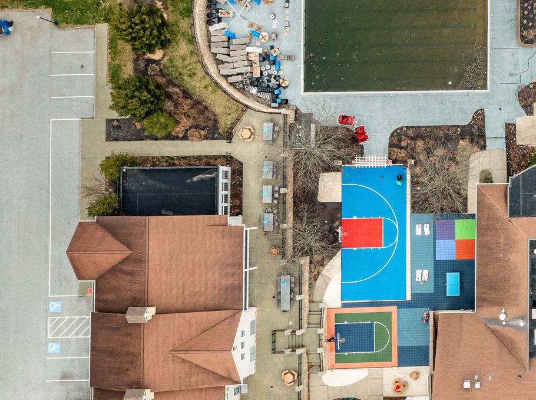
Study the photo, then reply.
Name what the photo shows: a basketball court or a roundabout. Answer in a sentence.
It is a basketball court that can be seen here.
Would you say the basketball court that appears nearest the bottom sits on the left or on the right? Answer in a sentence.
The basketball court that appears nearest the bottom is on the right side of the image.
